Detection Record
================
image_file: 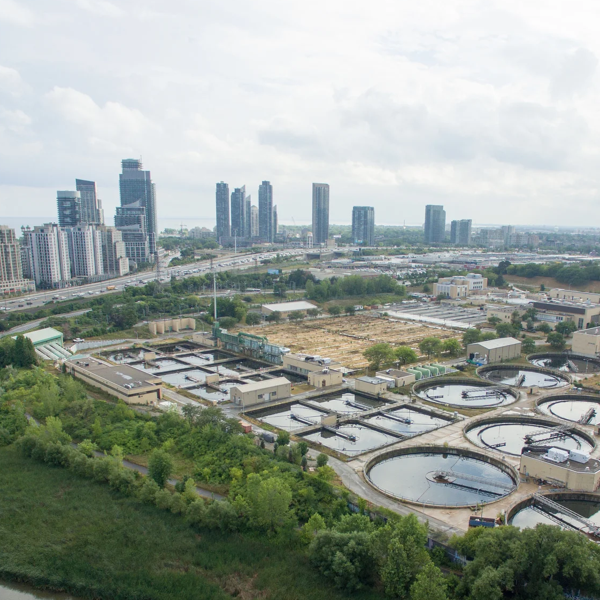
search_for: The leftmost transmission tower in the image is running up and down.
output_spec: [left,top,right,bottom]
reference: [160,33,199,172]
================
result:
[147,251,167,298]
